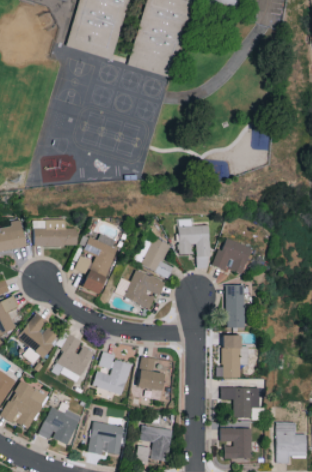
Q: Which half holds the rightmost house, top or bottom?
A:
bottom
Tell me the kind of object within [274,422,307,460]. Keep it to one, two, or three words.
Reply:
house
